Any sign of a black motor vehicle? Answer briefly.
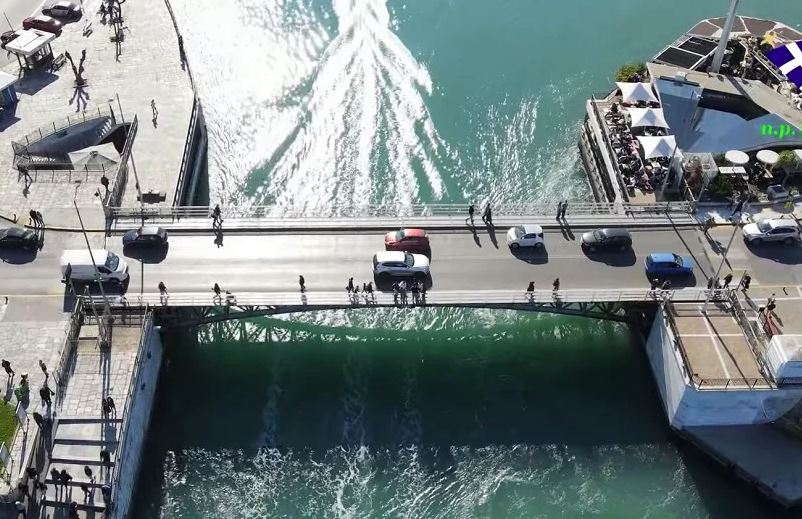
Yes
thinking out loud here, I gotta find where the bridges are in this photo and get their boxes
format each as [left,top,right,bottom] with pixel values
[83,203,706,350]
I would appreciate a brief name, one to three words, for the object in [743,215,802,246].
car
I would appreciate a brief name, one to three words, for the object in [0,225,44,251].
car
